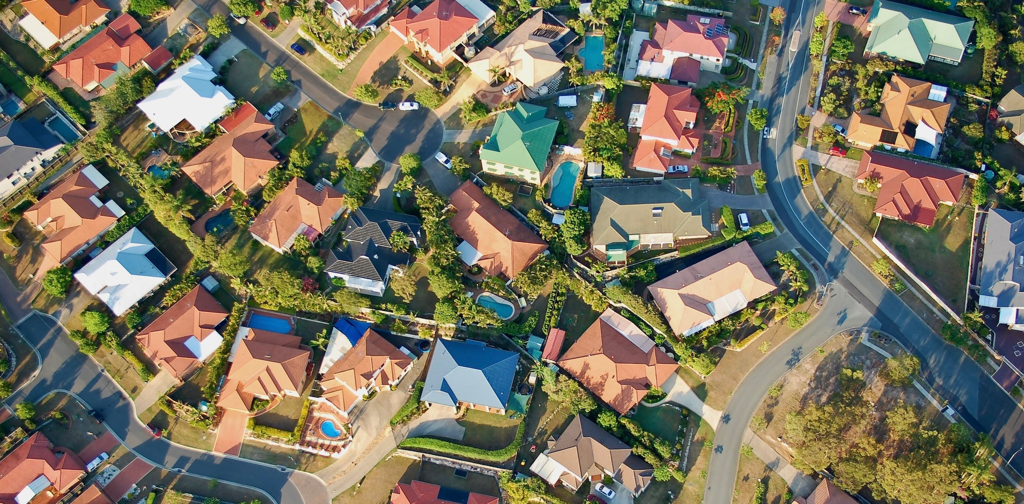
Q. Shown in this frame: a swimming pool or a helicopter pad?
swimming pool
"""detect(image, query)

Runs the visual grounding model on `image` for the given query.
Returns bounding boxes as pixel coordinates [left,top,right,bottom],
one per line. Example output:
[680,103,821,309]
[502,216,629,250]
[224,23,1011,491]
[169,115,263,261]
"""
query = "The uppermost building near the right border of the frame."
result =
[863,0,974,69]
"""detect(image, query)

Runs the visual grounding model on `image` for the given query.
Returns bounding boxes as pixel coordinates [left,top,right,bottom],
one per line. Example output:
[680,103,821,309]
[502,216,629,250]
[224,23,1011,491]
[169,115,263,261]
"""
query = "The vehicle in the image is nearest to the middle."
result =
[433,150,452,169]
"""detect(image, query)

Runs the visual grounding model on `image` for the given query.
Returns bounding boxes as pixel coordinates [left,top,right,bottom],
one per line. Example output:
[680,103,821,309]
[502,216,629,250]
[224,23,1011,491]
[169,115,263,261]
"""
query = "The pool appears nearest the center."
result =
[474,291,518,323]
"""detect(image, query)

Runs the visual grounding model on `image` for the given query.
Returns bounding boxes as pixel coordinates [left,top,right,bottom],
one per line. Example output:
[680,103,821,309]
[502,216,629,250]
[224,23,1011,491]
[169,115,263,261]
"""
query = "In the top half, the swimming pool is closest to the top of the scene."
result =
[576,34,606,72]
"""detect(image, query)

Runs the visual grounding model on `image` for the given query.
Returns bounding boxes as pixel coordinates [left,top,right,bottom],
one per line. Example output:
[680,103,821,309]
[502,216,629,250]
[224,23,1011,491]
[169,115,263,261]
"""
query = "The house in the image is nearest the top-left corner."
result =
[19,0,112,51]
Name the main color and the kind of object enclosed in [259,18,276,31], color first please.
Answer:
red vehicle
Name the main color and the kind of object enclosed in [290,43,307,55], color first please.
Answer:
blue vehicle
